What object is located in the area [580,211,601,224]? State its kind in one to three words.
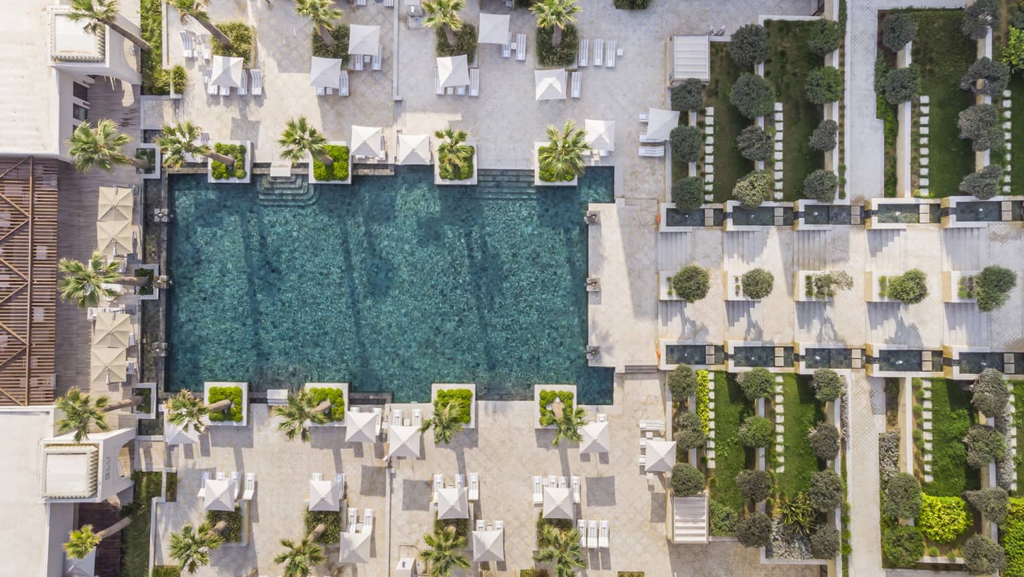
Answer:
fountain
